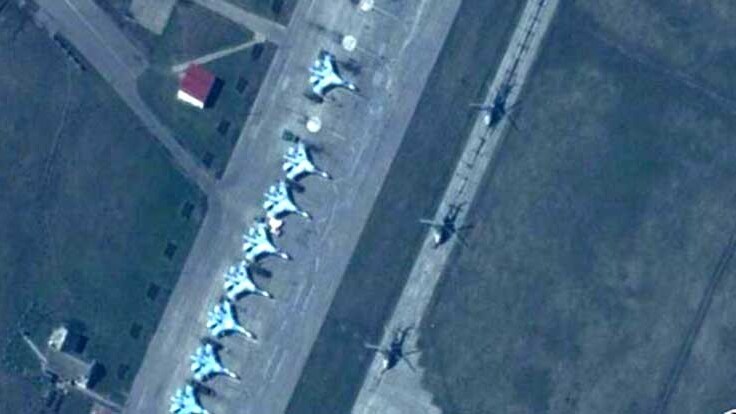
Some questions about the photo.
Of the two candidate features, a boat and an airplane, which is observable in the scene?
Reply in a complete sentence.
There is an airplane in the scene.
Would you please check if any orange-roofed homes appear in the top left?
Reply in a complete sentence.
No, in the top left there is no orange-roofed home.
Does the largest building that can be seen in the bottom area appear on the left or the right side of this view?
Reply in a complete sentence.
It is on the left.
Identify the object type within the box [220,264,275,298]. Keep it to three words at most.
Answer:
airplane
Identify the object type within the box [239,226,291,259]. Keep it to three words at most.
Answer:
airplane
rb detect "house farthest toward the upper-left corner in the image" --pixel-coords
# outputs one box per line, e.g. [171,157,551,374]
[180,67,217,103]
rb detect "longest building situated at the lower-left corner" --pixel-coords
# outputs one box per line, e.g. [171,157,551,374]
[42,350,96,387]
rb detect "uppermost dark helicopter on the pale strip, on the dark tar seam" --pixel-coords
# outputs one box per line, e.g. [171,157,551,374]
[470,85,508,126]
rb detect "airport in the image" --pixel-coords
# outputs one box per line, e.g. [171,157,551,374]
[24,0,559,414]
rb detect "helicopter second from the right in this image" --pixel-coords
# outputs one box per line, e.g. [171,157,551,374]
[420,202,461,244]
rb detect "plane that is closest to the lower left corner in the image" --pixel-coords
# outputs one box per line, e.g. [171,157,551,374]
[165,385,216,414]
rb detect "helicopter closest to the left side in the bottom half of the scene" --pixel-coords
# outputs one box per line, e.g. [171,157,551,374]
[367,326,408,370]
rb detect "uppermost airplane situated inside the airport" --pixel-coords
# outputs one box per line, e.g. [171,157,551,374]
[308,60,359,93]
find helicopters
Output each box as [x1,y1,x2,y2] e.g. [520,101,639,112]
[420,202,461,244]
[470,85,508,126]
[367,326,408,370]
